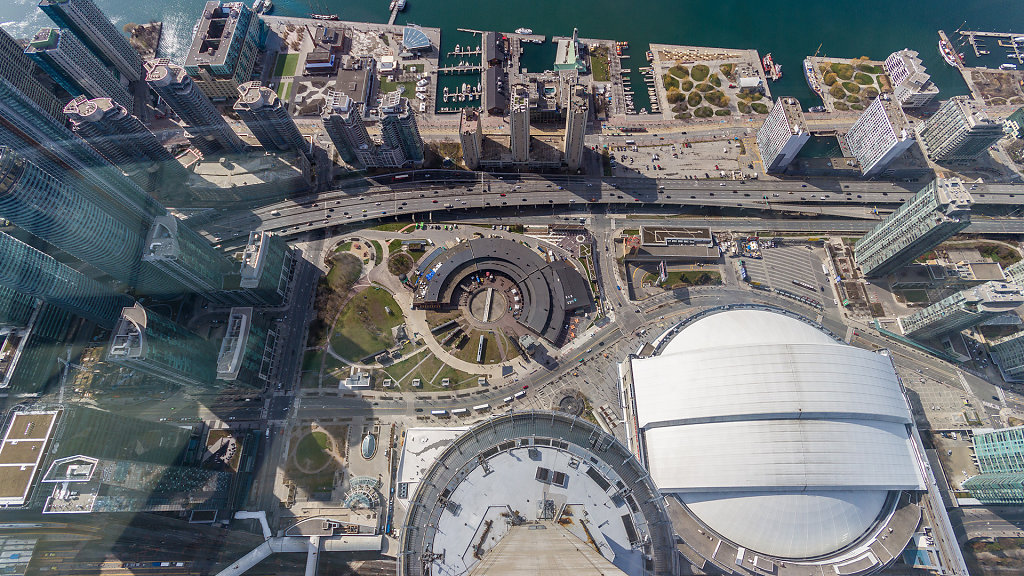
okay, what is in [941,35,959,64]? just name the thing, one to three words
ship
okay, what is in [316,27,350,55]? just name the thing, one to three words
building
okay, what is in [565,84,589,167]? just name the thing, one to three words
building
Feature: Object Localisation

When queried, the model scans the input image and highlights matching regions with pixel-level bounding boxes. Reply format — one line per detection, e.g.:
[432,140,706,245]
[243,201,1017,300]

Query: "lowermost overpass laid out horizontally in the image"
[190,169,1024,250]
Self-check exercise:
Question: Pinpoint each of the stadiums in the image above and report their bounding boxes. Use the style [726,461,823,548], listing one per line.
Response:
[623,303,969,576]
